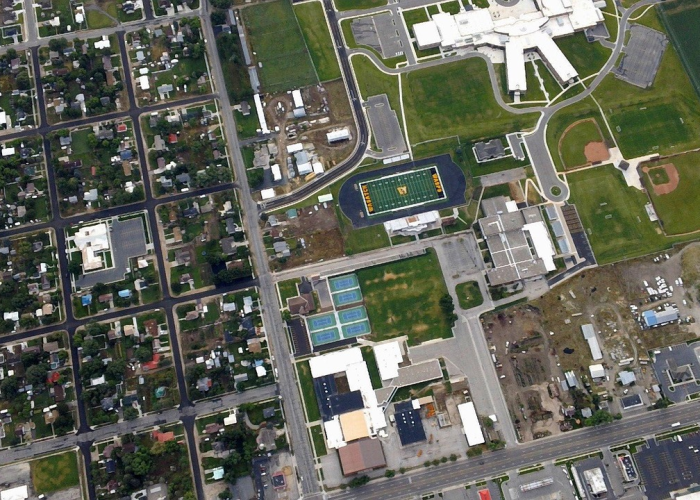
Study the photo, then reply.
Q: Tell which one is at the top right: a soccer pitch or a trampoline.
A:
soccer pitch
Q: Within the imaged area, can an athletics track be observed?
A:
Yes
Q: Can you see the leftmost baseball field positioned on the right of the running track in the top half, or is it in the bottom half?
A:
top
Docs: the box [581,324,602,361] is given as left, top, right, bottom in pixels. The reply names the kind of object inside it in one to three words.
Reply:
barn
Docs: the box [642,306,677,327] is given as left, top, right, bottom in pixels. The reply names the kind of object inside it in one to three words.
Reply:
building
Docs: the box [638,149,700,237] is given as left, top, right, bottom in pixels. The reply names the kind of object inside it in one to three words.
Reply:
baseball field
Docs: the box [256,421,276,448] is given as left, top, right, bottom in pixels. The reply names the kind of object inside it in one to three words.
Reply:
house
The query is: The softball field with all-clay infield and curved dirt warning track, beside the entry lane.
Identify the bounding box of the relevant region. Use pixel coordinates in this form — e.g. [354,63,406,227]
[558,117,610,170]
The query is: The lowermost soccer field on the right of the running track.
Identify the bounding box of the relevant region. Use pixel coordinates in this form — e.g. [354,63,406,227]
[586,200,647,241]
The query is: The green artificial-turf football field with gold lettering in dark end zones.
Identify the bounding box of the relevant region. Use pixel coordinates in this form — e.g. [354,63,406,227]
[355,162,450,220]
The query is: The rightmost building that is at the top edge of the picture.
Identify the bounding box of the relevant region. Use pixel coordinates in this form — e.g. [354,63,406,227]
[412,0,606,94]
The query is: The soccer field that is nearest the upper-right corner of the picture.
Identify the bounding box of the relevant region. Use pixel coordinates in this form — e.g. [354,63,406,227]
[607,99,699,153]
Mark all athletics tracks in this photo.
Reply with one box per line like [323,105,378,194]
[340,154,466,228]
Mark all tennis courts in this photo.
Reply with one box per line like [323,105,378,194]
[311,327,341,346]
[340,320,371,339]
[307,312,337,332]
[338,305,368,324]
[328,273,359,293]
[333,288,363,306]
